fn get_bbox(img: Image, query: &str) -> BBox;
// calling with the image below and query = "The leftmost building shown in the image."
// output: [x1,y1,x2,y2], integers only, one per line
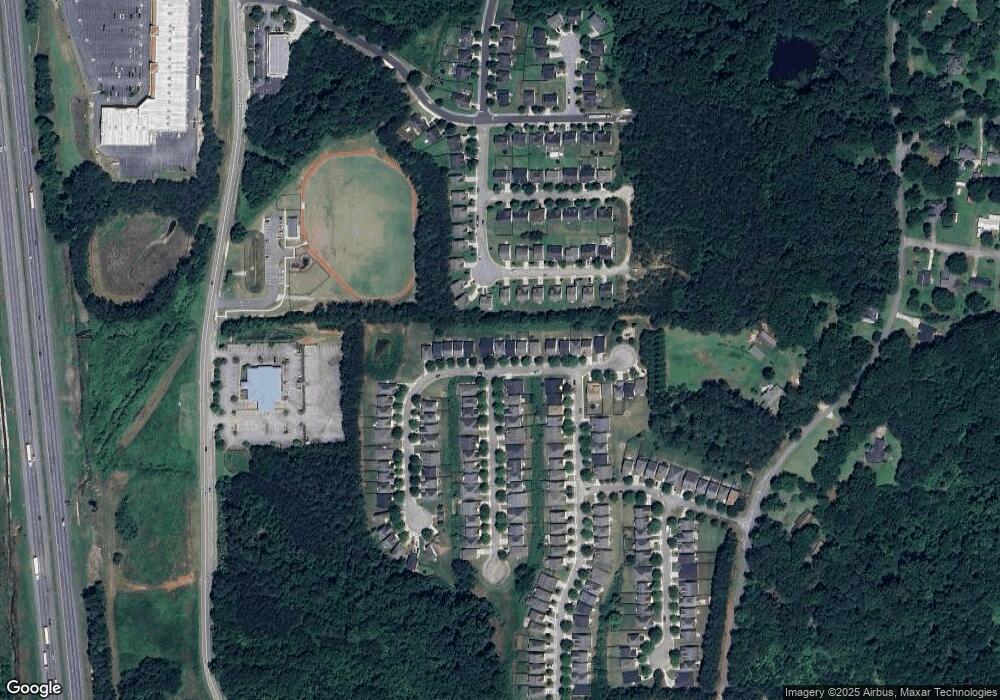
[100,0,189,145]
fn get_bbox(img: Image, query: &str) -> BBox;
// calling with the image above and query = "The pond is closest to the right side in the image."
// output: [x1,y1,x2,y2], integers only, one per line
[769,36,816,82]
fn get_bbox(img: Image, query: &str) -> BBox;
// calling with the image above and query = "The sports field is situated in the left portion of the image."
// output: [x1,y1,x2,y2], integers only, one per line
[300,149,416,302]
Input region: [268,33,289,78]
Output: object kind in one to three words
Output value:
building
